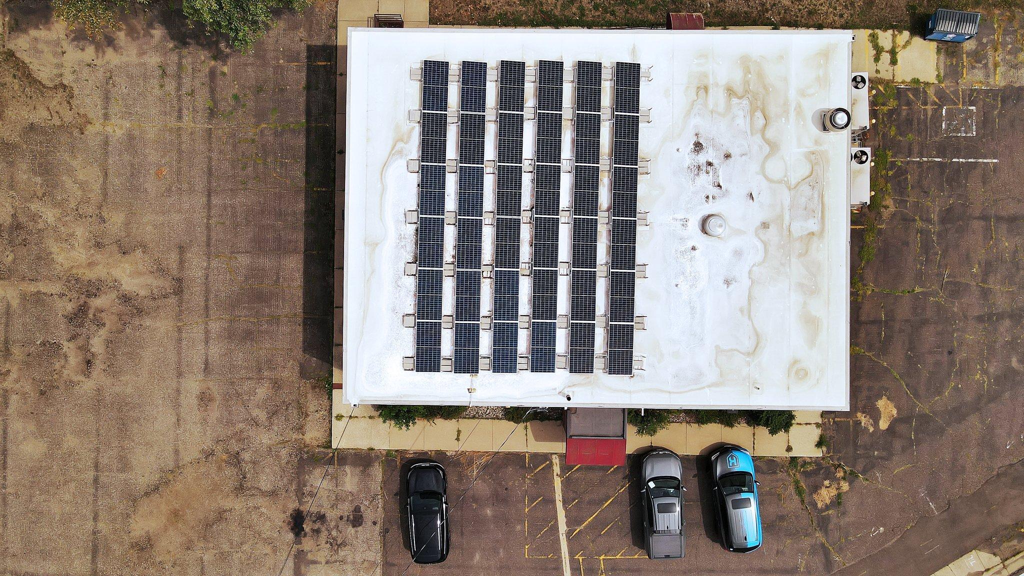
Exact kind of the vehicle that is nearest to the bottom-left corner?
automobile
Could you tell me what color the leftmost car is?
black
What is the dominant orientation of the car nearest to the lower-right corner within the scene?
up and down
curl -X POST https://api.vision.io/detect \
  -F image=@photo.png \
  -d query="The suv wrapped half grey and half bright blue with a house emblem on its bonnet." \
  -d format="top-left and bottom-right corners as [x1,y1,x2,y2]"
[707,443,762,554]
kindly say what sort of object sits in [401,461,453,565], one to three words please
car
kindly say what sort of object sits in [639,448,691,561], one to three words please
vehicle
